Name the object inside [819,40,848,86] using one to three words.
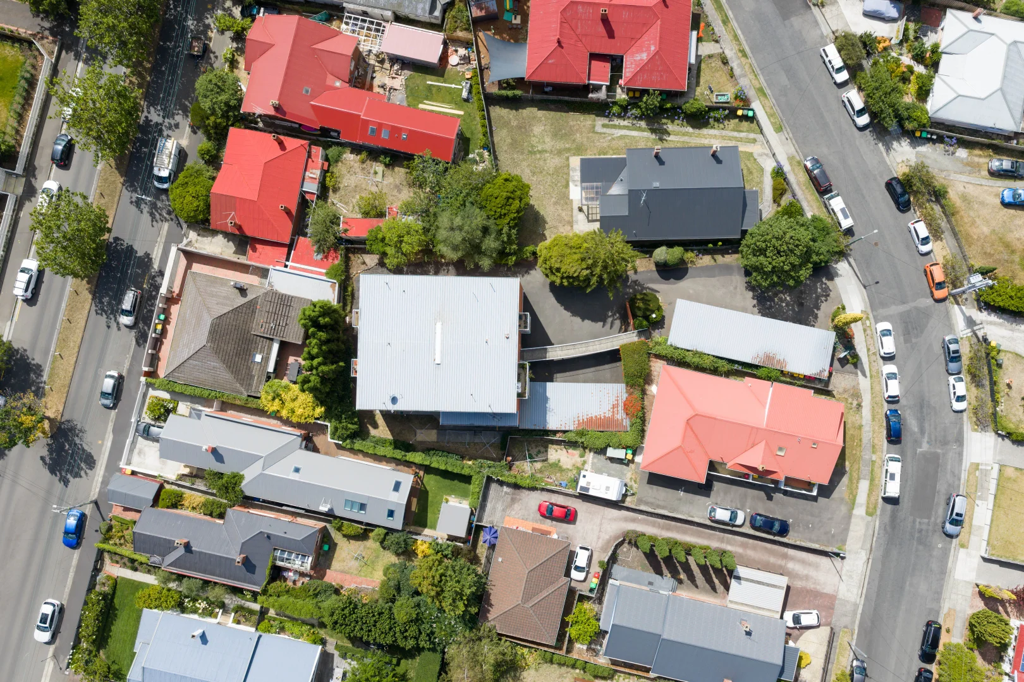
vehicle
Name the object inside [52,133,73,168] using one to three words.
car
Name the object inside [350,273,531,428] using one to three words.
building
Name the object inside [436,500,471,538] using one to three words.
shed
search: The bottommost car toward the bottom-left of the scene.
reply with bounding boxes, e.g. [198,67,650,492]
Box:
[35,597,62,645]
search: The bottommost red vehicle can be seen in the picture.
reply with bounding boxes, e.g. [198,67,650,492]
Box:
[537,501,577,521]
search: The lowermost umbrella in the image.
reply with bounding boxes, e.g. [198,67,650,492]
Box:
[479,525,498,546]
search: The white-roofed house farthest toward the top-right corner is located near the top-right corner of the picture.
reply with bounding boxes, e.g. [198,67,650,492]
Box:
[923,5,1024,138]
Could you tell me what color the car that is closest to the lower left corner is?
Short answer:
white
